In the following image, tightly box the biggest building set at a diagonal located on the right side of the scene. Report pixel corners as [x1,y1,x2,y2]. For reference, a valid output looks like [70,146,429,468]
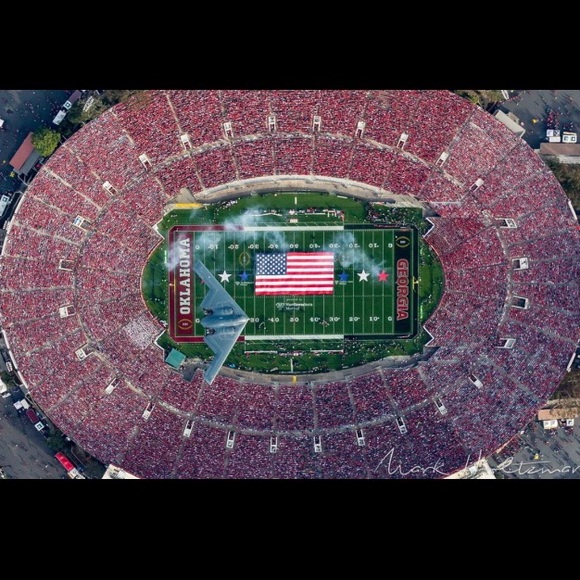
[493,109,527,138]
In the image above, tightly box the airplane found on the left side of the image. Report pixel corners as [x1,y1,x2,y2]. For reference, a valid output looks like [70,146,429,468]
[194,259,249,387]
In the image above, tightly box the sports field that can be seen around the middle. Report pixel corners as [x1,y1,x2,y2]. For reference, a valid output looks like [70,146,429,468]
[167,221,422,345]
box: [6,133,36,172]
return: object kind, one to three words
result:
building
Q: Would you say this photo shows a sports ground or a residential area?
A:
sports ground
